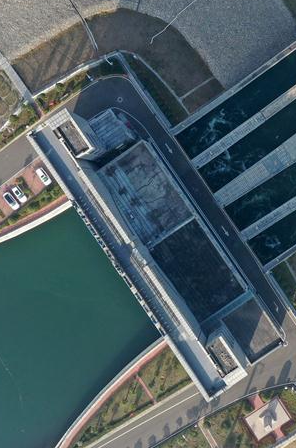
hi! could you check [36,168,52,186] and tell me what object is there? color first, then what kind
white car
